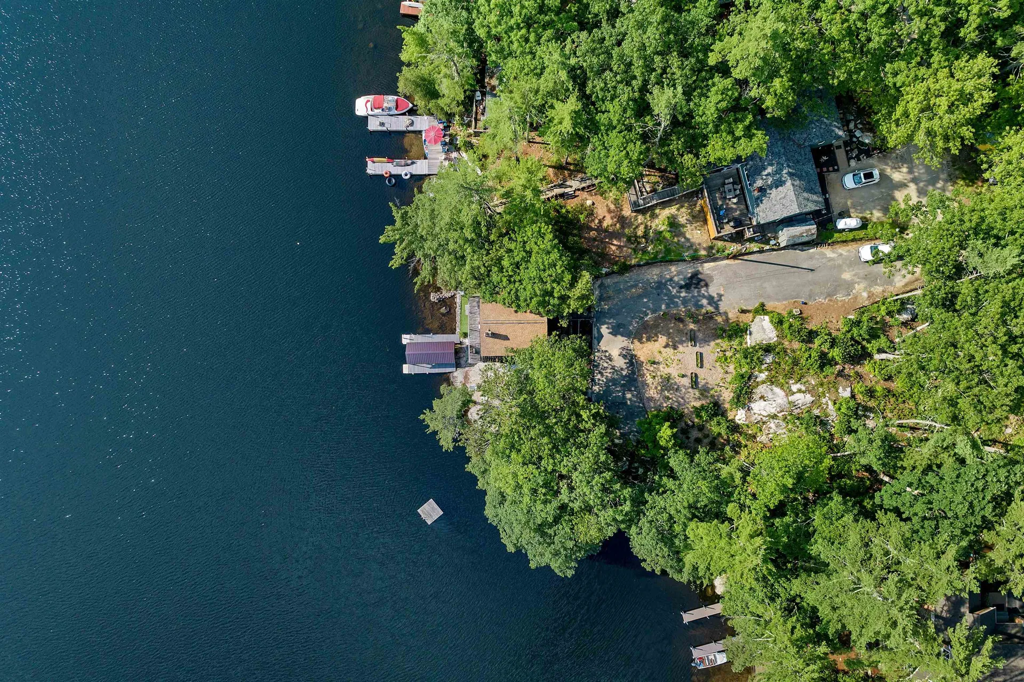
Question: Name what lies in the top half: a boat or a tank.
boat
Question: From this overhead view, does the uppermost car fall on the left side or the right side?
right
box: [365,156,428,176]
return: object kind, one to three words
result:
pier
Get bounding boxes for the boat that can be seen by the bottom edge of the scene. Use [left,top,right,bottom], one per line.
[692,652,728,670]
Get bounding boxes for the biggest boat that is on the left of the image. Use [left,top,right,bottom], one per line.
[355,93,413,116]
